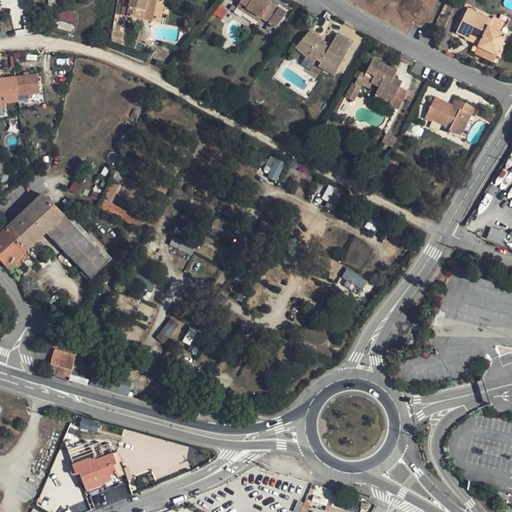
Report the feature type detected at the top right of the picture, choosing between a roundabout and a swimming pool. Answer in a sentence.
The one visible at the top right of the picture is a swimming pool.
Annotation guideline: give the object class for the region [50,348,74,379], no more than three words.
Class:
house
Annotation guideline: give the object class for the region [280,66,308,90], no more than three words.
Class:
swimming pool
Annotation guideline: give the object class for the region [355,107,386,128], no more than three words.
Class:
swimming pool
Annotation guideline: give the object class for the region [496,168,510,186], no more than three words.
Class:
boat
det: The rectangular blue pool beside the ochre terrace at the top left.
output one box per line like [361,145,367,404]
[151,24,180,43]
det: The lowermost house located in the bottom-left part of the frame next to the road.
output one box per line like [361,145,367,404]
[72,453,114,495]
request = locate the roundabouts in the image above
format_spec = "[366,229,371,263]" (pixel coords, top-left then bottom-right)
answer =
[306,378,400,472]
